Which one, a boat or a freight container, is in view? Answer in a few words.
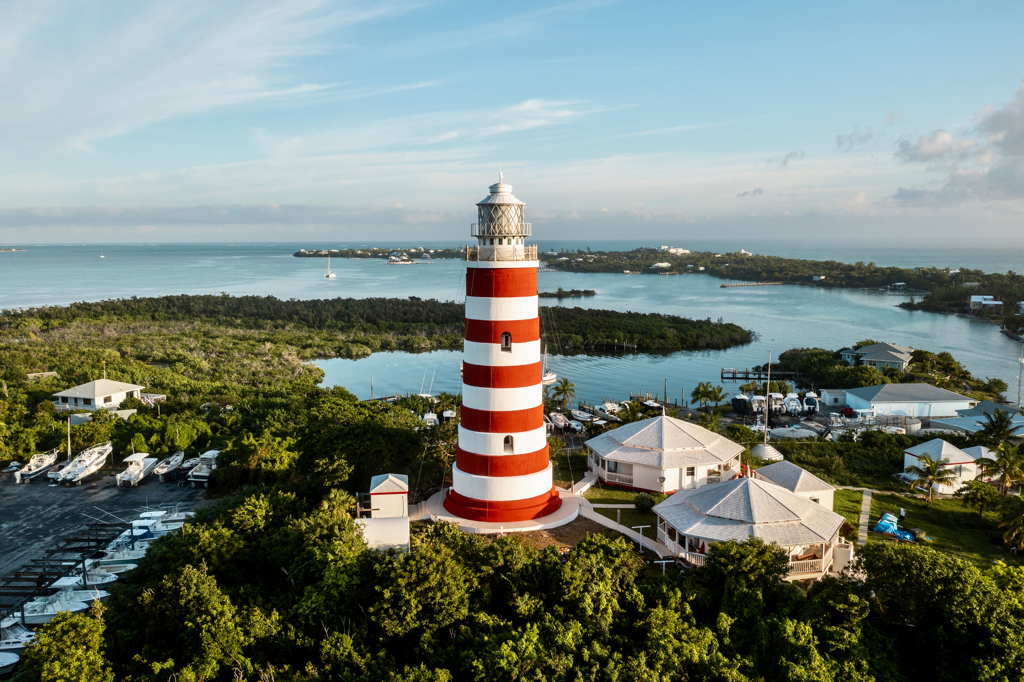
boat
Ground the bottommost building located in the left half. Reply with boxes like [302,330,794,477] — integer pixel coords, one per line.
[371,471,414,522]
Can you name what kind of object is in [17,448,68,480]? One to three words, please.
boat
